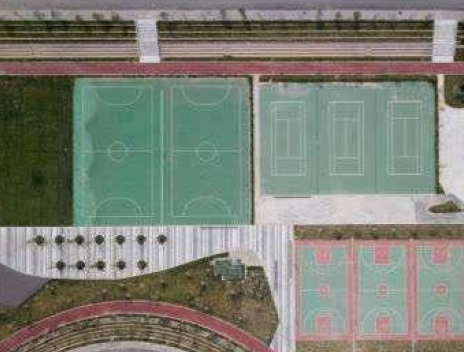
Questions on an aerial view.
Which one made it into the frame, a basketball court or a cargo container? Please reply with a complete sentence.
Looking from above, you can make out a basketball court.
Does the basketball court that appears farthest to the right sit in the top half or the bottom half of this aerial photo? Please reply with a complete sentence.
You can find the basketball court that appears farthest to the right in the bottom half.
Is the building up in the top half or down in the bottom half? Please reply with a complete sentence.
The building sits in the bottom half of the picture.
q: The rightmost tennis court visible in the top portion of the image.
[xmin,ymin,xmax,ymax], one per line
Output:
[377,81,436,195]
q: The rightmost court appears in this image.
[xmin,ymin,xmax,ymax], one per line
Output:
[412,239,464,340]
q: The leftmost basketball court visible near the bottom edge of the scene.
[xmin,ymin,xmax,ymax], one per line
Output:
[296,239,353,340]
